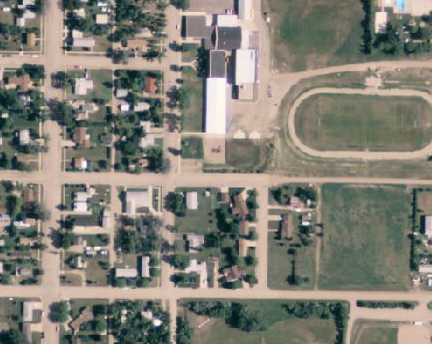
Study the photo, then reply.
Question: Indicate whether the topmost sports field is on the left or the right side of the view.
right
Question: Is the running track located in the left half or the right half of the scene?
right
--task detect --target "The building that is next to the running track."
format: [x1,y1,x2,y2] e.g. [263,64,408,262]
[186,0,254,133]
